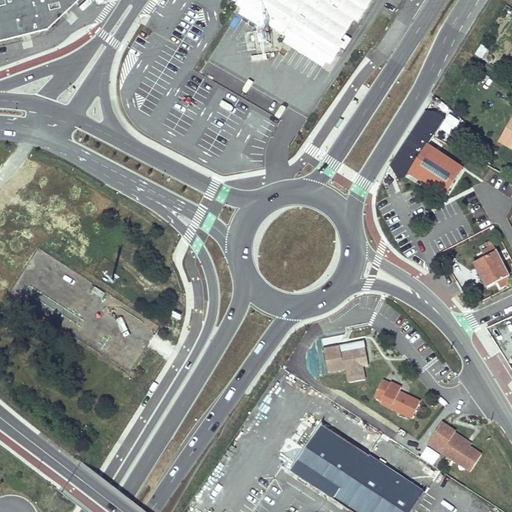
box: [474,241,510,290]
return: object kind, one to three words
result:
house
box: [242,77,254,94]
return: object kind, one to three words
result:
vehicle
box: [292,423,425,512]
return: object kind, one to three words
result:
building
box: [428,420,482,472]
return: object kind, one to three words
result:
house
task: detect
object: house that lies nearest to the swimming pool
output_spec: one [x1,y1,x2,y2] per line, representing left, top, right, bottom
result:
[324,340,369,383]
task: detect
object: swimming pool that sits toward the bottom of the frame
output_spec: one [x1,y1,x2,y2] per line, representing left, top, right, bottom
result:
[307,340,326,380]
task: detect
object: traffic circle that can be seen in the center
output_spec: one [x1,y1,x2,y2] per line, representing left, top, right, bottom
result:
[234,187,358,312]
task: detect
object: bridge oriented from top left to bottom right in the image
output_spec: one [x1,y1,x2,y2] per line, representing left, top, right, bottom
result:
[0,399,147,512]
